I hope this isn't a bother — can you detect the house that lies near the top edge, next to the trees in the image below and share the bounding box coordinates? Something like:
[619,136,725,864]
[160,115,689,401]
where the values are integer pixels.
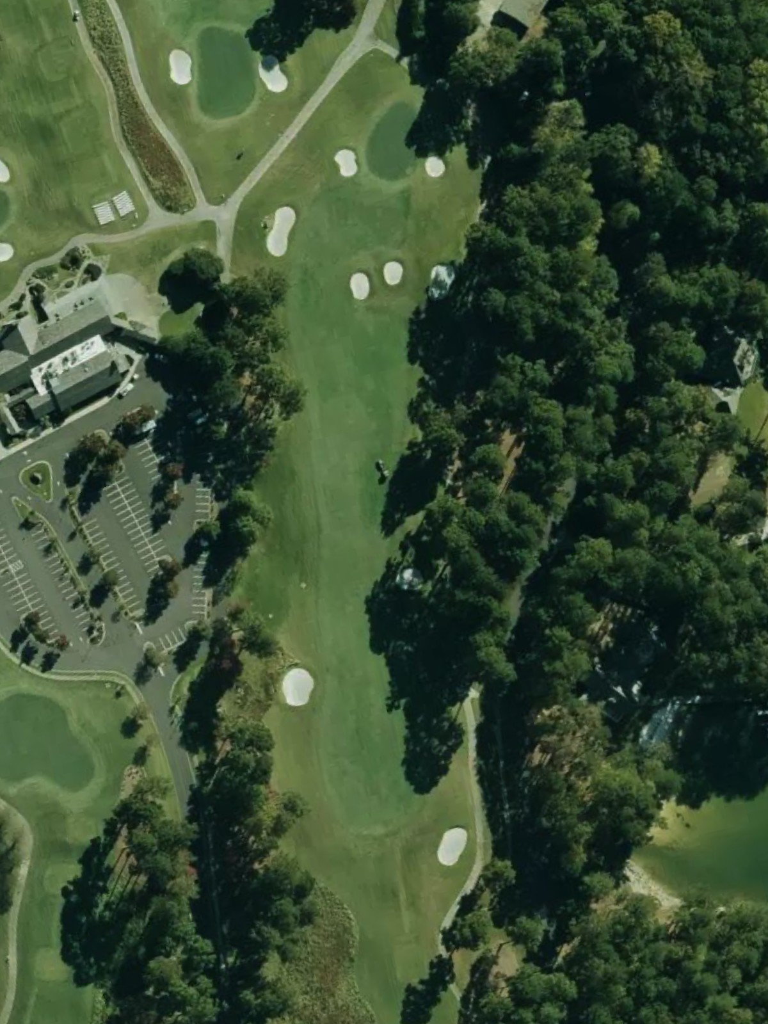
[496,0,539,32]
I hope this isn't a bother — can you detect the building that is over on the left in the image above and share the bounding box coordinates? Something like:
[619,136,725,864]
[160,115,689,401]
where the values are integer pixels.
[0,303,157,448]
